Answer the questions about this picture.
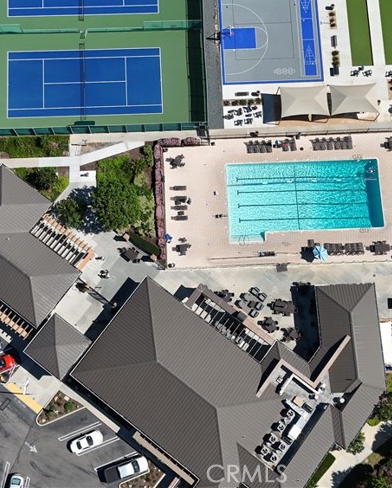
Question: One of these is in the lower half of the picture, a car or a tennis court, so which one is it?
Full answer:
It is a car that can be seen in the lower half of the picture.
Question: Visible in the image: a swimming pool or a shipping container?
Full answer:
Visible in the photo is a swimming pool.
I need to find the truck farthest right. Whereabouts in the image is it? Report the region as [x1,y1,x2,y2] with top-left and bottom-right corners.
[103,456,148,483]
